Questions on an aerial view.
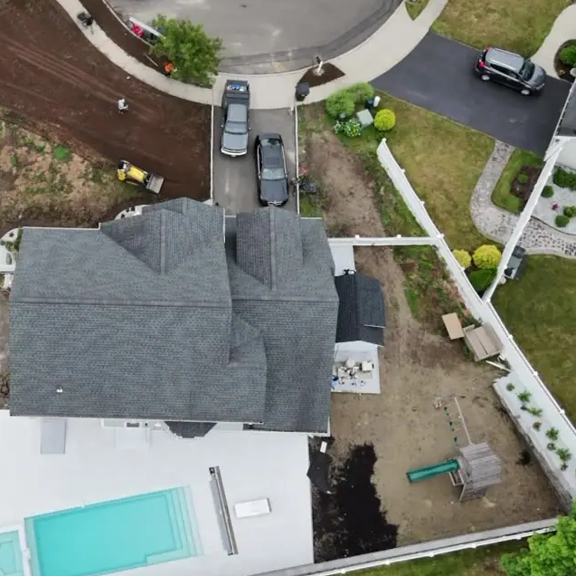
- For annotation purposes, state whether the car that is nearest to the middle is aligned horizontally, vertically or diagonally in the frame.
vertically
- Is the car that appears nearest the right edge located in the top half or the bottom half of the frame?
top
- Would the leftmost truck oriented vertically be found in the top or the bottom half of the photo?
top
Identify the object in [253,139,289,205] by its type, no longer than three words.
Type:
car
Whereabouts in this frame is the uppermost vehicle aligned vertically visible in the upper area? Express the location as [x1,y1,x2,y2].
[216,80,253,157]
